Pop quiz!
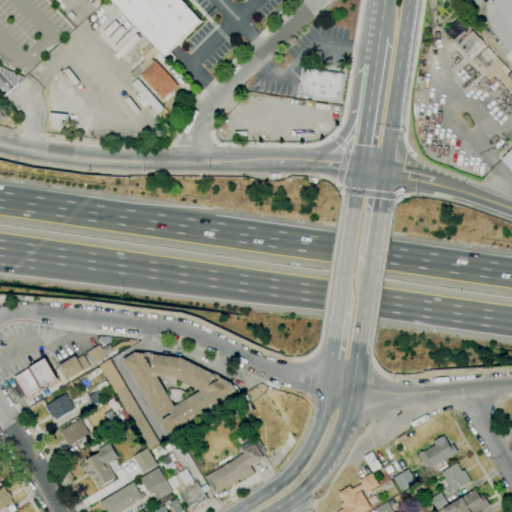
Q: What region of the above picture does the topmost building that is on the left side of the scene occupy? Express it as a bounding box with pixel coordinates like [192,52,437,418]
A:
[112,0,203,56]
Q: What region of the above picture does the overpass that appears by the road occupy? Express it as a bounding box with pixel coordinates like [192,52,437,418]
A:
[322,200,395,341]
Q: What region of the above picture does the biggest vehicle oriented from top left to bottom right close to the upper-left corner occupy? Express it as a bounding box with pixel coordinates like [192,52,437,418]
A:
[64,67,82,88]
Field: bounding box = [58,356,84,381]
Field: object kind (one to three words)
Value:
building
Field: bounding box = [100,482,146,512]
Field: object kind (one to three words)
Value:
house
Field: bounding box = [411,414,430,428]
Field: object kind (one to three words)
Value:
vehicle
